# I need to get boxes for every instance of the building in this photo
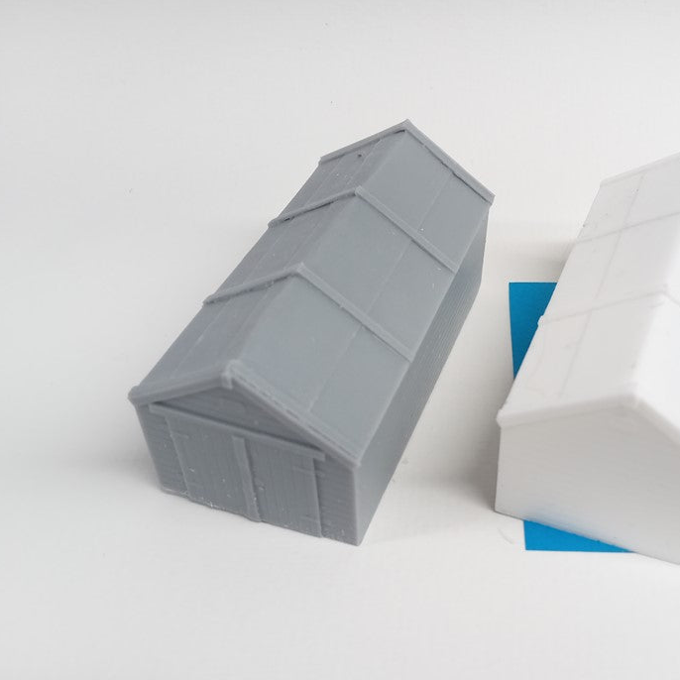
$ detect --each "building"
[496,153,680,562]
[127,119,497,545]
